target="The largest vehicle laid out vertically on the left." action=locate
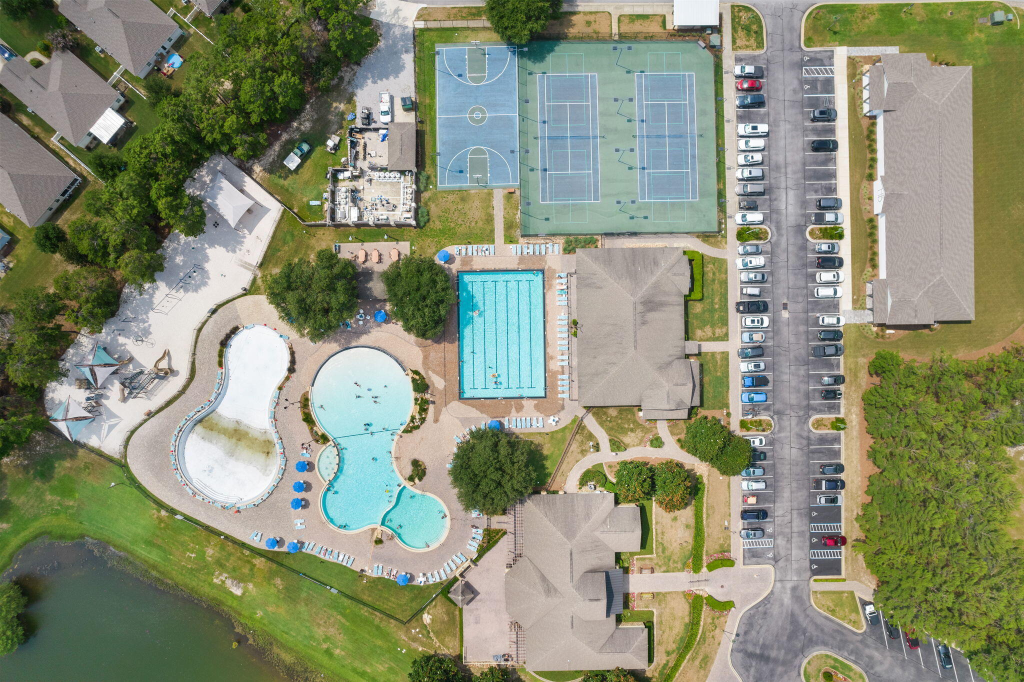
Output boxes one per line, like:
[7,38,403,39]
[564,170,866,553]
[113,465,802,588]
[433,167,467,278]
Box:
[379,91,391,124]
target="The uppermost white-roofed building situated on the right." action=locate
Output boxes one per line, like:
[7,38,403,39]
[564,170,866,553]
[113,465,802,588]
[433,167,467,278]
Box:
[671,0,719,33]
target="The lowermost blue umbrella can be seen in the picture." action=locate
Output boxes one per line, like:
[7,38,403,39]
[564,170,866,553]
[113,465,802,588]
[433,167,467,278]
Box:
[396,571,410,585]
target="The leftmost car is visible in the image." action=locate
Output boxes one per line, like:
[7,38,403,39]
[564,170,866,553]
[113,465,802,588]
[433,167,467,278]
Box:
[0,41,21,62]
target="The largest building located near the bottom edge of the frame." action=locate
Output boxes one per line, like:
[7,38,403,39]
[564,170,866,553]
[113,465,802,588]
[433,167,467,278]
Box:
[505,493,648,671]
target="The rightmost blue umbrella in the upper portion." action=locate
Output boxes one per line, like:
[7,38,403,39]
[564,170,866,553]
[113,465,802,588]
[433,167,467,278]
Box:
[437,250,450,263]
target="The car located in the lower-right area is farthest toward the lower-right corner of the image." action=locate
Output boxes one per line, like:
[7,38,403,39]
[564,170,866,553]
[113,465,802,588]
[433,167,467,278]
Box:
[934,641,953,670]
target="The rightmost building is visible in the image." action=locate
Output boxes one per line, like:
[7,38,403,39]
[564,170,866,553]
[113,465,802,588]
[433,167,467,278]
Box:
[861,52,975,324]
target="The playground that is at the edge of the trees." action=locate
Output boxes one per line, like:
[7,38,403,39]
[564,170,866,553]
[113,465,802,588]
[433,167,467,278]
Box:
[44,154,282,457]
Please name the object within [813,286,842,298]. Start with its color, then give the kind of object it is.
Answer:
white vehicle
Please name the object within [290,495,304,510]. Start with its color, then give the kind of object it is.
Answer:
blue umbrella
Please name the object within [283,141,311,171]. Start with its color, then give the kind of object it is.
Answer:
white truck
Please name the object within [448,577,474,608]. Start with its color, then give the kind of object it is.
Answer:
gray gazebo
